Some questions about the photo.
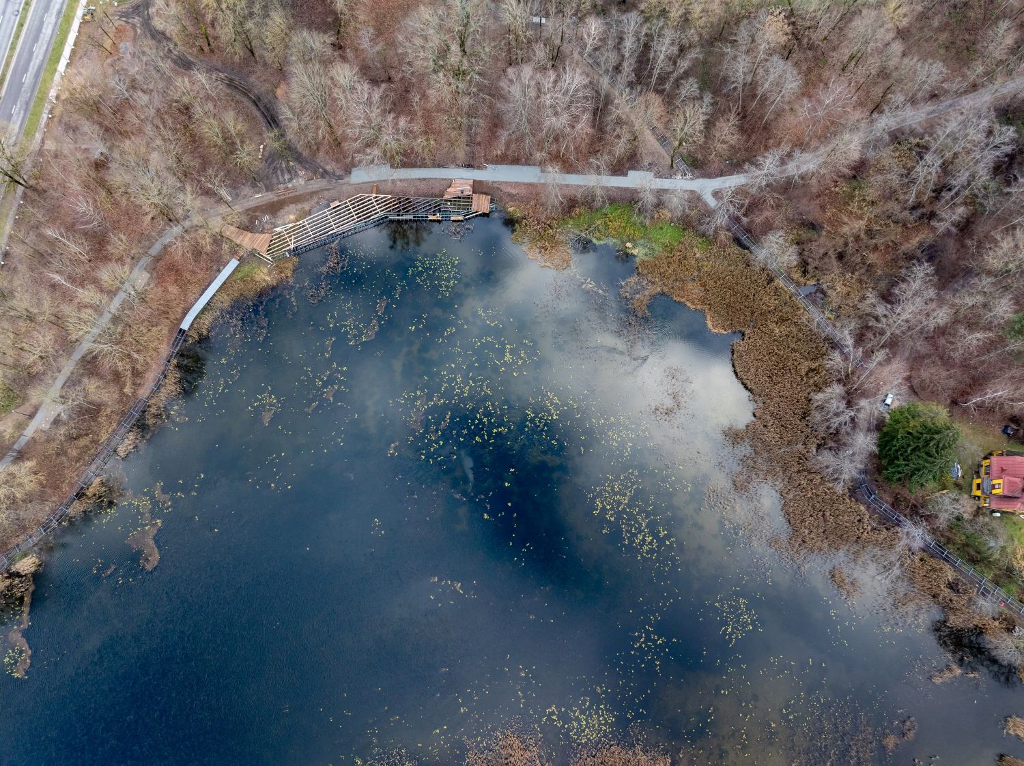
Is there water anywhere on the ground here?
Yes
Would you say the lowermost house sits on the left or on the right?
right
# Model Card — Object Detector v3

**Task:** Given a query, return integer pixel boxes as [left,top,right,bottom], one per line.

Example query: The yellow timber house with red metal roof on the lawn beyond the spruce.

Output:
[970,453,1024,509]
